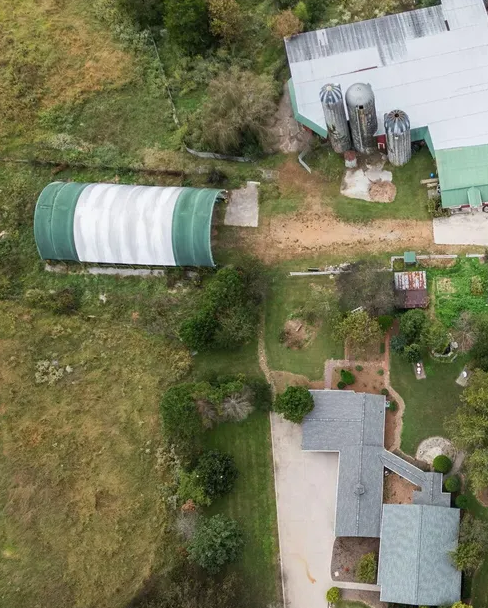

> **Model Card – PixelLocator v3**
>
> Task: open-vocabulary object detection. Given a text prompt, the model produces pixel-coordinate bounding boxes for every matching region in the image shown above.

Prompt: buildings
[393,271,428,312]
[285,0,488,217]
[33,181,228,270]
[300,390,462,605]
[403,247,415,264]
